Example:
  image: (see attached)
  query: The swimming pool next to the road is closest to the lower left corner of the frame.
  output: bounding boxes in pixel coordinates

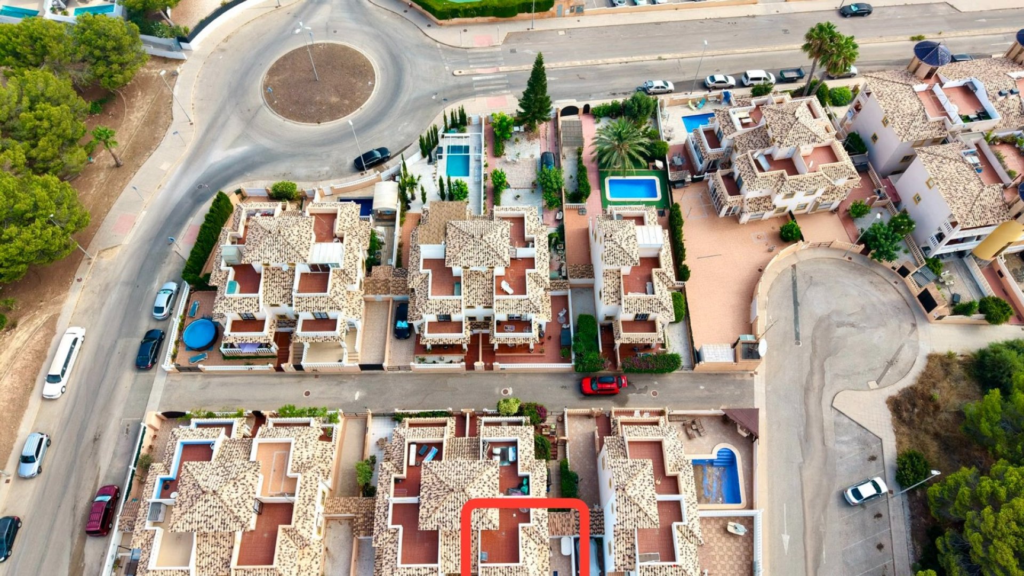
[176,315,222,356]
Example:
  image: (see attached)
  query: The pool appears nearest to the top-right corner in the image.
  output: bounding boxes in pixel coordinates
[680,112,711,142]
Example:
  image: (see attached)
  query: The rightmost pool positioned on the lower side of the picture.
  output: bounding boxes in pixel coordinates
[691,442,747,510]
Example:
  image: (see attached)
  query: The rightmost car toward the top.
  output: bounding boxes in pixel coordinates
[952,48,982,66]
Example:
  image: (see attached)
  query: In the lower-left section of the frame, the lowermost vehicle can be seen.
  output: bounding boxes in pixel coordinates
[0,516,26,563]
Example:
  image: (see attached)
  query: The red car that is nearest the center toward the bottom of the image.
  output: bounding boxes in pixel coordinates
[578,374,633,400]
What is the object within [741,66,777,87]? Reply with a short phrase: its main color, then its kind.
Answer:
white car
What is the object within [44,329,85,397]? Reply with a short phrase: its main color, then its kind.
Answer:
white car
